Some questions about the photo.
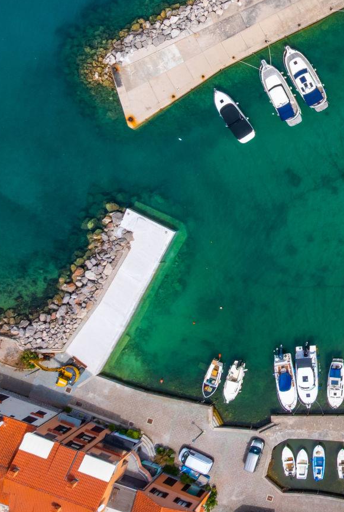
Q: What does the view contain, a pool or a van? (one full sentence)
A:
This aerial view contains a van.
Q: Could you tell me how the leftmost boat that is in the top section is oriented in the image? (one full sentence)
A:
Seen from above, the leftmost boat that is in the top section lies at an angle.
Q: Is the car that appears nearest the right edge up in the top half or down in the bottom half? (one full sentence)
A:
It is in the bottom half that the car that appears nearest the right edge appears.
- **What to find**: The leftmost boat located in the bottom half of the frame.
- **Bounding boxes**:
[203,356,222,403]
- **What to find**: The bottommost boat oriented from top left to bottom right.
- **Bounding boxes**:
[210,90,251,143]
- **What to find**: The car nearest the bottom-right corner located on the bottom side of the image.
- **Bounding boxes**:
[242,436,265,473]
